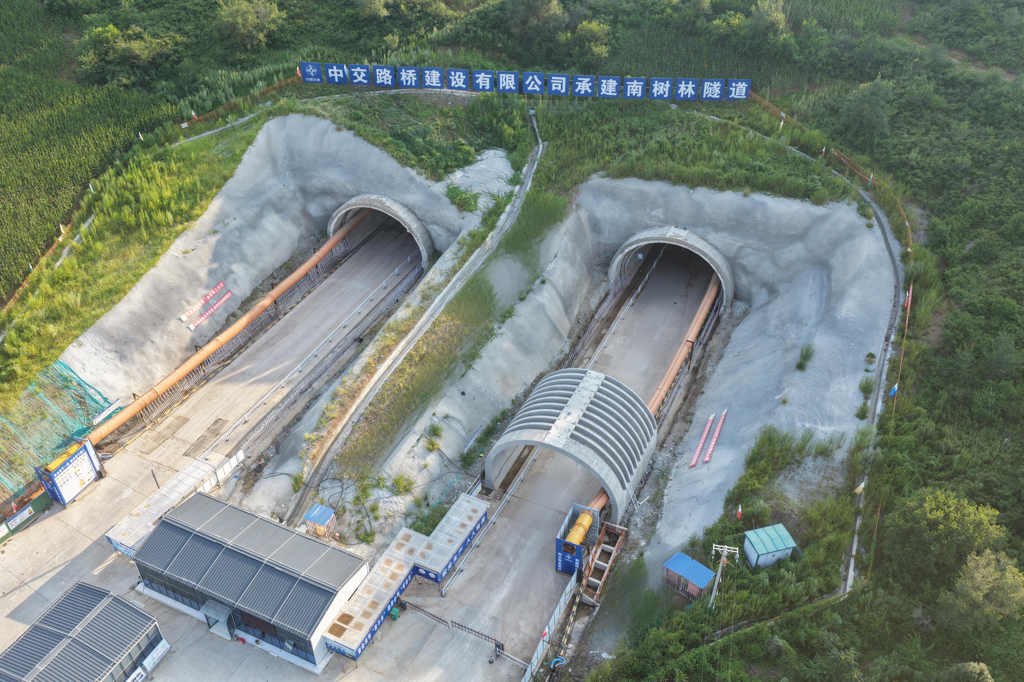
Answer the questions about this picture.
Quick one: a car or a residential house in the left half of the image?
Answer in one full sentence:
You can see a residential house in the left half of the image.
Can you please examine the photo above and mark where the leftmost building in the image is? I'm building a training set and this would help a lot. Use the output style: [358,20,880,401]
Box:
[0,580,159,682]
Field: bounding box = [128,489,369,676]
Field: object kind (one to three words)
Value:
house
